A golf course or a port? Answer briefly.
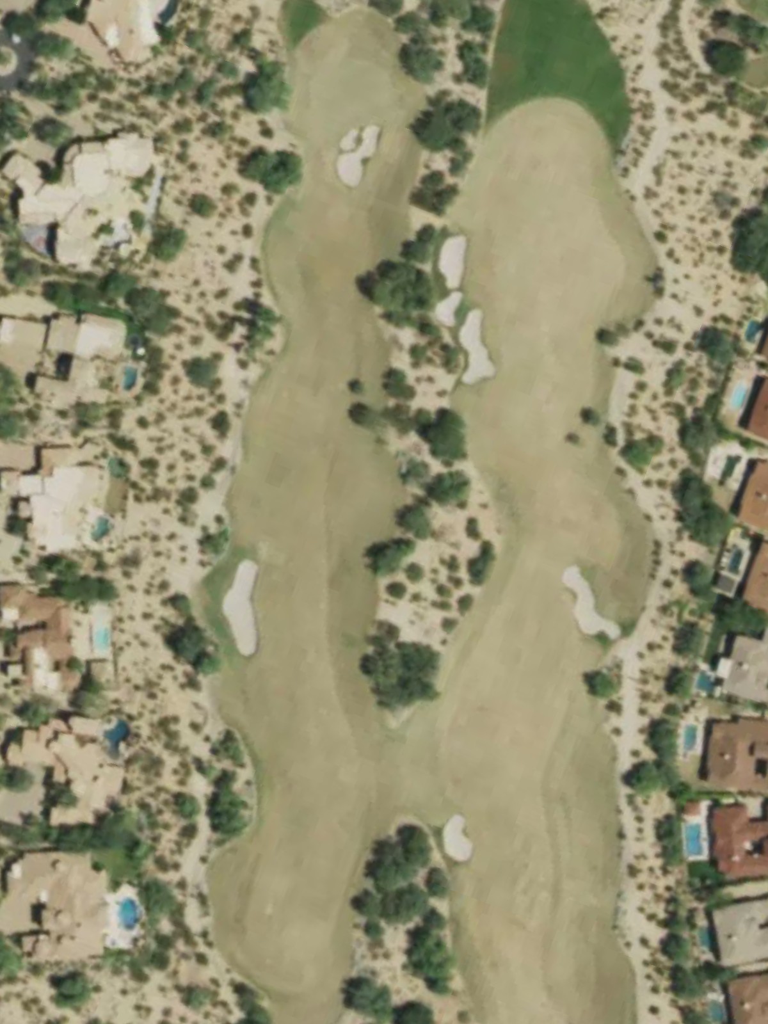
golf course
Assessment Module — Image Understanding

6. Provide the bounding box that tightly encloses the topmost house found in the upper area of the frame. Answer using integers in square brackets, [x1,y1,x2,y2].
[88,0,160,64]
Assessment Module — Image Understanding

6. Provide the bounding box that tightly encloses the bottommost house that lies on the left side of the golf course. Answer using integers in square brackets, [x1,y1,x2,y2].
[0,852,106,961]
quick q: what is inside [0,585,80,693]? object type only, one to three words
house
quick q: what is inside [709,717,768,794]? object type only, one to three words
house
